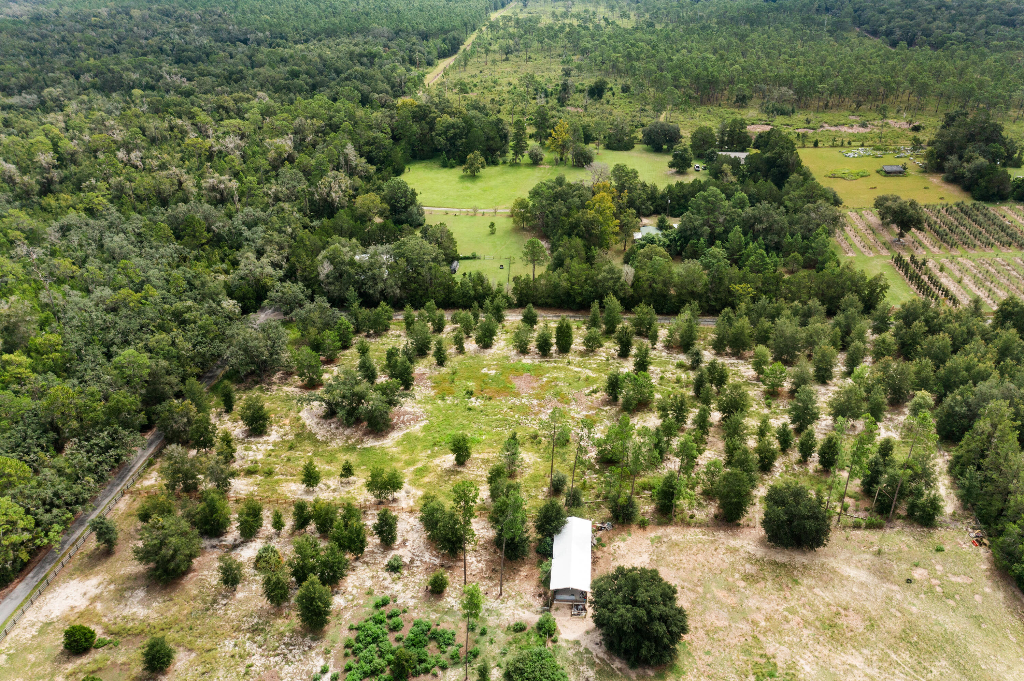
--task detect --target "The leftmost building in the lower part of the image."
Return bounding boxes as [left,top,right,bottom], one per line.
[549,515,592,609]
